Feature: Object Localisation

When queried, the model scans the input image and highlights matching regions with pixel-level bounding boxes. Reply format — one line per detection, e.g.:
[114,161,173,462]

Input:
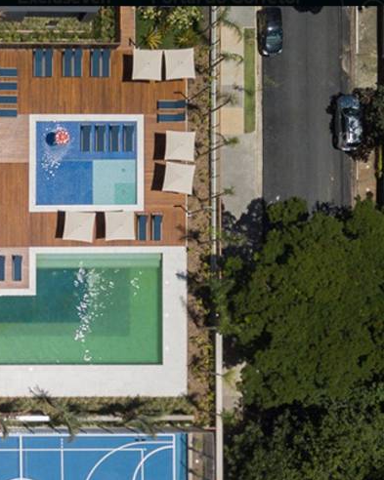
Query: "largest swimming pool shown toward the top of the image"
[30,114,144,210]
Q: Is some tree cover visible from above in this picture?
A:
Yes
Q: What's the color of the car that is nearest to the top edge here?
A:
black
